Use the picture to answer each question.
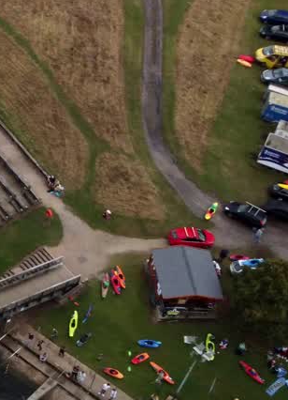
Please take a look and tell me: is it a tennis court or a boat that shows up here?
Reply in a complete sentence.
It is a boat that can be seen here.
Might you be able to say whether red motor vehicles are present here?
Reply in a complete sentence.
Yes, a red motor vehicle is visible in the scene.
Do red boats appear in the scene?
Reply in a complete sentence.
Yes, the picture does show a red boat.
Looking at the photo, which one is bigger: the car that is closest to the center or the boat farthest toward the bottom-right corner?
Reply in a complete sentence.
The car is bigger than the boat.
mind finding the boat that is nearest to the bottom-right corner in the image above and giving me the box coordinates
[238,360,265,385]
